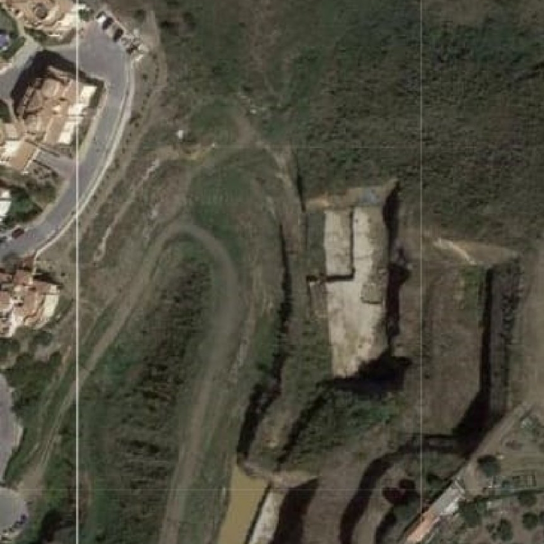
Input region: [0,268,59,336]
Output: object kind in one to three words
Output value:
house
